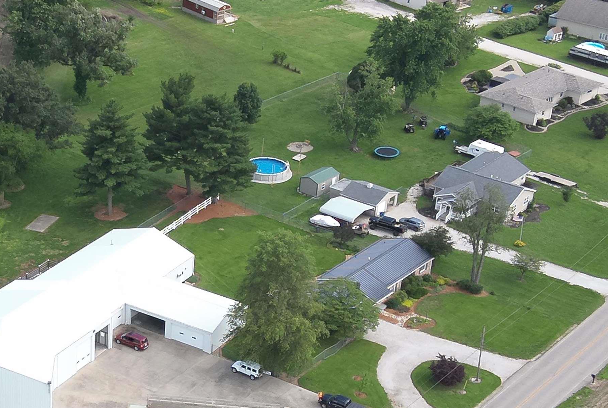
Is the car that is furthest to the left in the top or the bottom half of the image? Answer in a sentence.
The car that is furthest to the left sits in the bottom half of the picture.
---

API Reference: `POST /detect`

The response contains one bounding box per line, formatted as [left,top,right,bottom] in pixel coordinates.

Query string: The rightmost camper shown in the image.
[568,40,608,64]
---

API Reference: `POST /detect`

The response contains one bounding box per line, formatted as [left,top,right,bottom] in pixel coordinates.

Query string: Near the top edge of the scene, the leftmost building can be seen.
[183,0,232,23]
